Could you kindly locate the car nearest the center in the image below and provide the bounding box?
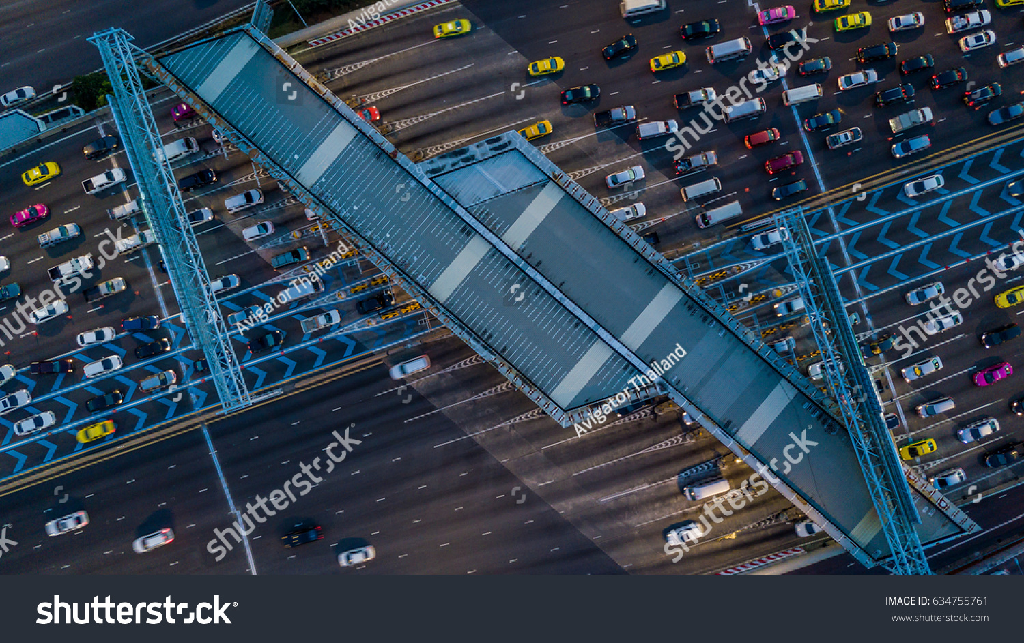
[391,356,431,378]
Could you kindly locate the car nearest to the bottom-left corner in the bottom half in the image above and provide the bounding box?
[48,511,89,535]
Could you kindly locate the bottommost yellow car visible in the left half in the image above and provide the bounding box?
[76,419,118,442]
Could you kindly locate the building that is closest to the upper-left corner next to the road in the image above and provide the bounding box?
[0,109,45,153]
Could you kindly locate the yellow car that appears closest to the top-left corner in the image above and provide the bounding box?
[21,162,62,185]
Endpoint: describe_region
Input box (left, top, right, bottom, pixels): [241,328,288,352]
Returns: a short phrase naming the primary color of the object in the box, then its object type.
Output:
black truck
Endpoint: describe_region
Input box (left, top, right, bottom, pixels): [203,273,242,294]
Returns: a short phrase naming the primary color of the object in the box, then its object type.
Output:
blue car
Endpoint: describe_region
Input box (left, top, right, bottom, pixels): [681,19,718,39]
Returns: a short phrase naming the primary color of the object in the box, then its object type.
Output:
black car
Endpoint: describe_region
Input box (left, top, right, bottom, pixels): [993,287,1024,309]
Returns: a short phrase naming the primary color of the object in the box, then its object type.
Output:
yellow car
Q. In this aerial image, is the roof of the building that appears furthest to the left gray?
No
